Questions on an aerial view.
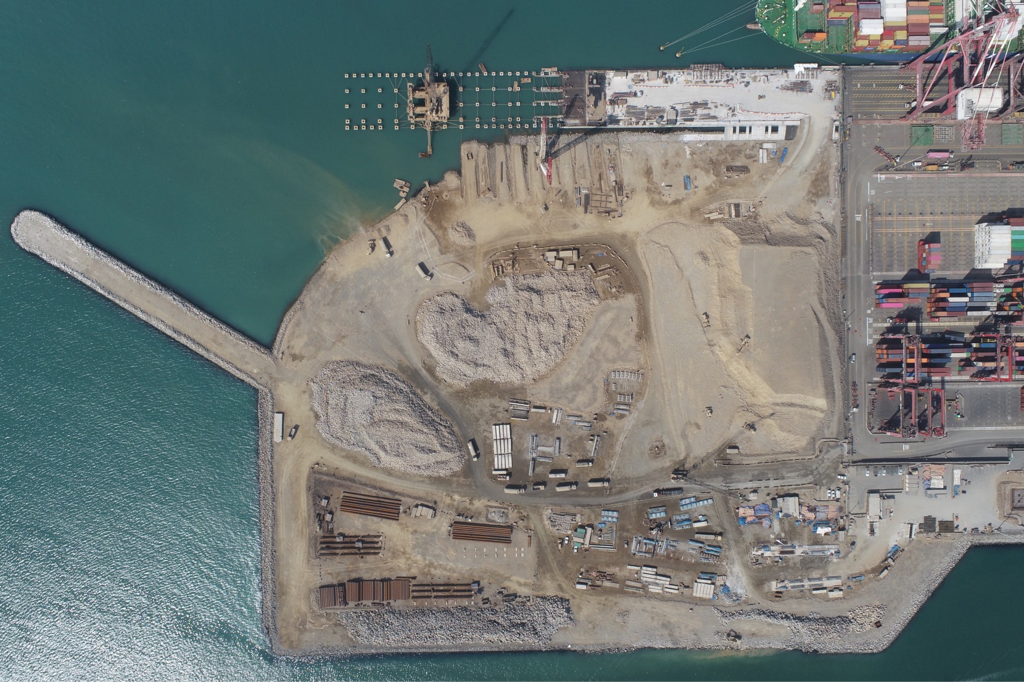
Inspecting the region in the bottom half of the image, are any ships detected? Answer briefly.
No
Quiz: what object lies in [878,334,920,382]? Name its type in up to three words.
container crane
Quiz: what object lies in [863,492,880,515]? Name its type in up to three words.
building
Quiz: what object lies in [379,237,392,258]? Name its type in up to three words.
vehicle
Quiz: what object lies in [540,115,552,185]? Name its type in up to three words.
crane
